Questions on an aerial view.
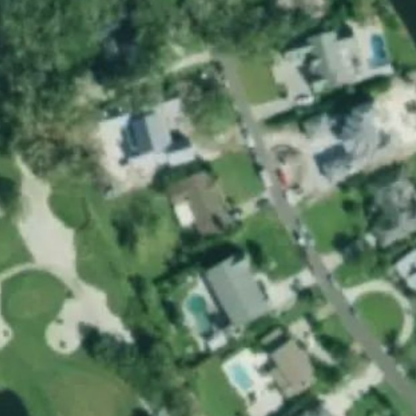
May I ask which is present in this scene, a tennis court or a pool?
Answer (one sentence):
Visible in the photo is a pool.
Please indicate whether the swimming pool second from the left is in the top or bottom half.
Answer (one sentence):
You can find the swimming pool second from the left in the bottom half.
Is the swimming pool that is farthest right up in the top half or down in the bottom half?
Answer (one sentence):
The swimming pool that is farthest right sits in the top half of the picture.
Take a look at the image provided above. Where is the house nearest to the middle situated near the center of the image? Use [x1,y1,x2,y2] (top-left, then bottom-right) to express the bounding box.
[181,172,233,235]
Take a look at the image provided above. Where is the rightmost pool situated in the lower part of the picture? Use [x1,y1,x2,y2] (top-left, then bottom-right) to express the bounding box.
[223,348,283,416]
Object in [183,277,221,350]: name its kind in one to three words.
swimming pool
